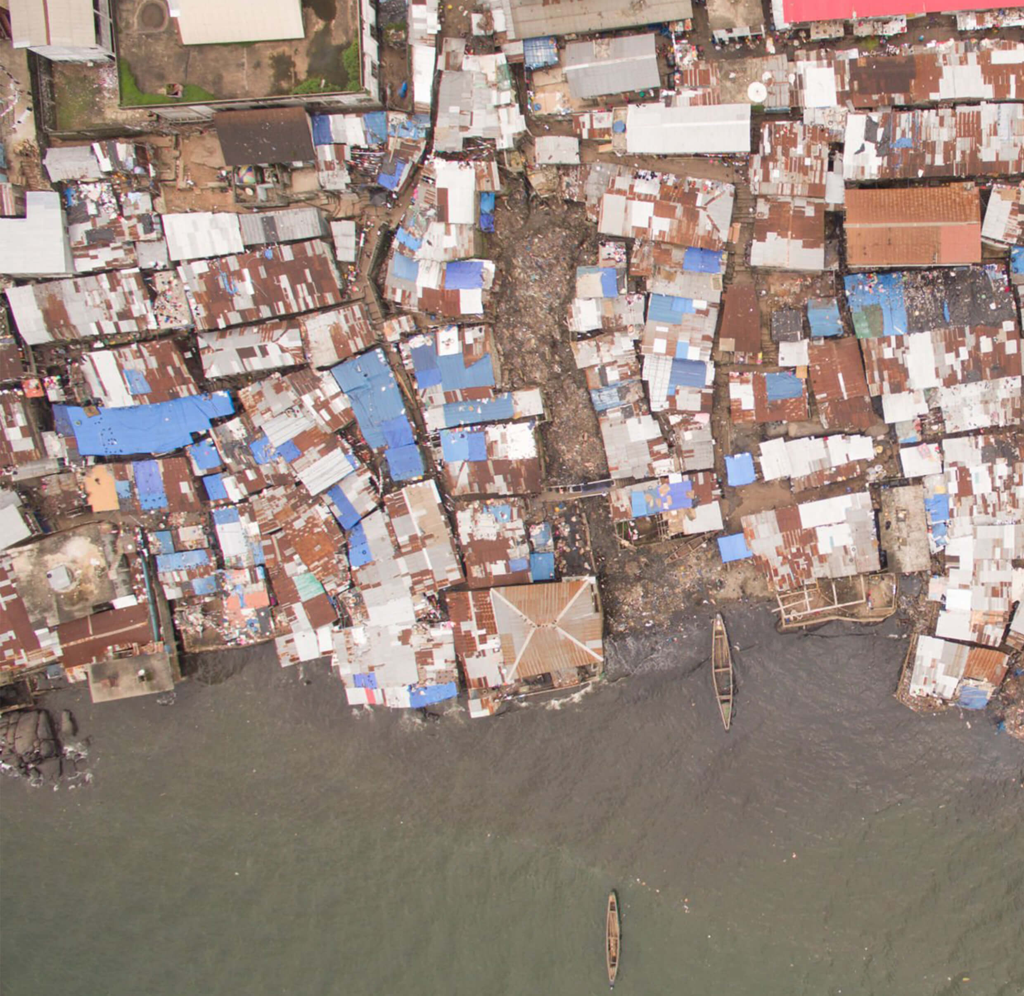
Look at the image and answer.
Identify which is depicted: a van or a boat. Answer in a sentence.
It is a boat that can be seen here.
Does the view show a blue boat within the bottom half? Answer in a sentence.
No, no blue boat is visible within the bottom half.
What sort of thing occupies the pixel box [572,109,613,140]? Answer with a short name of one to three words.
shed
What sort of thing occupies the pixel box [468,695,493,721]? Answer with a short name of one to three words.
shed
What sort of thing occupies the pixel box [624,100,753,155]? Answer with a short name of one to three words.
building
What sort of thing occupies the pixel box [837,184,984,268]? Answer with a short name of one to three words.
house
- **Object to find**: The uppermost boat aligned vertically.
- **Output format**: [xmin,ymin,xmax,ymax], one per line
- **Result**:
[712,611,733,732]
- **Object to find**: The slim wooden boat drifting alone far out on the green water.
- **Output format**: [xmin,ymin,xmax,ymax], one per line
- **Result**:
[604,888,620,987]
